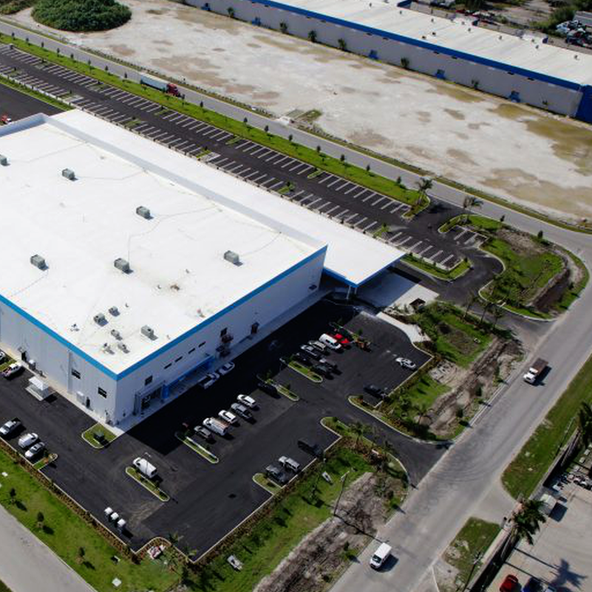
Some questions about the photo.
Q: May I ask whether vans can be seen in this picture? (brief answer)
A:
Yes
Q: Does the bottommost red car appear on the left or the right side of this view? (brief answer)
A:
right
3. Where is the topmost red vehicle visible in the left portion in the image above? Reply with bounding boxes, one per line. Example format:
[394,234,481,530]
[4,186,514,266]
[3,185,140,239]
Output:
[163,84,182,98]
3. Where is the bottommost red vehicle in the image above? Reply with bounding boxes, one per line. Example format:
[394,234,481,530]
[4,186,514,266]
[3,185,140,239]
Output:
[497,572,520,592]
